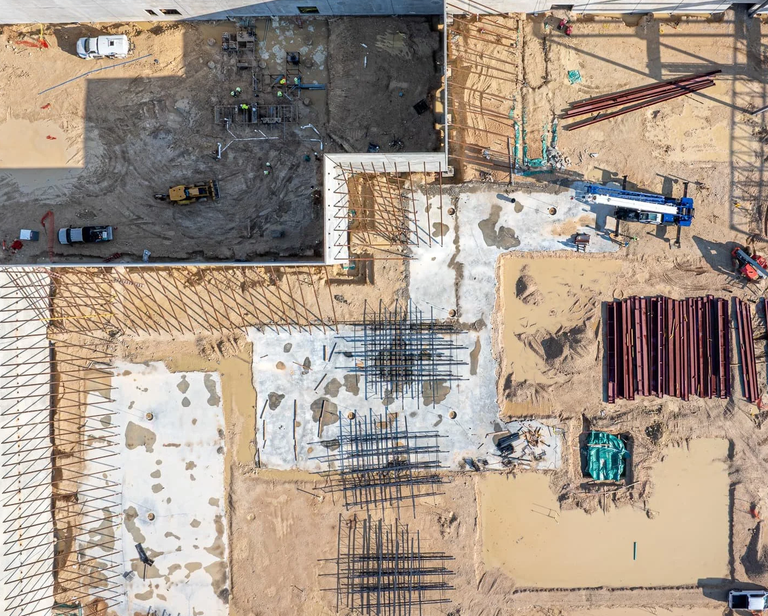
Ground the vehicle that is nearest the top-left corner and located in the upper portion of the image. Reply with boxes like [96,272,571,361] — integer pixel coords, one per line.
[78,35,134,59]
